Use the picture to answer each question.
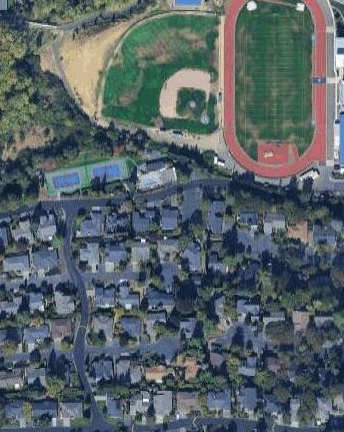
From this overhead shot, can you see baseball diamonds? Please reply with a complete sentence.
Yes, a baseball diamond is visible in the scene.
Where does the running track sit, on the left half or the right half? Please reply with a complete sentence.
The running track appears in the right half of the scene.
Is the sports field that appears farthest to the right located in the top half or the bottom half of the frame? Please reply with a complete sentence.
The top half of the photo is where the sports field that appears farthest to the right is.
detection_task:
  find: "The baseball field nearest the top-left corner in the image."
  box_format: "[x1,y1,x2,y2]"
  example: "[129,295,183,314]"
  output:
[102,14,220,135]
